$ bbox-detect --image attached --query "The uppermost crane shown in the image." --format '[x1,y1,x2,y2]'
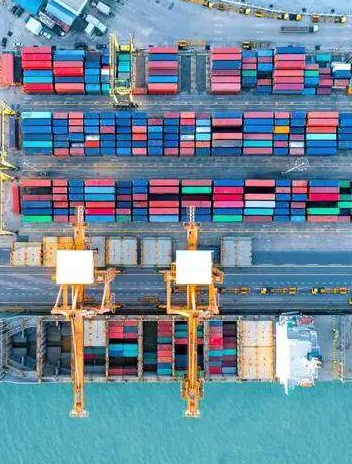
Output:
[110,32,140,107]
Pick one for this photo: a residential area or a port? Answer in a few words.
port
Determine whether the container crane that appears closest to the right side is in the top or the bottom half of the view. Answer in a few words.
bottom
